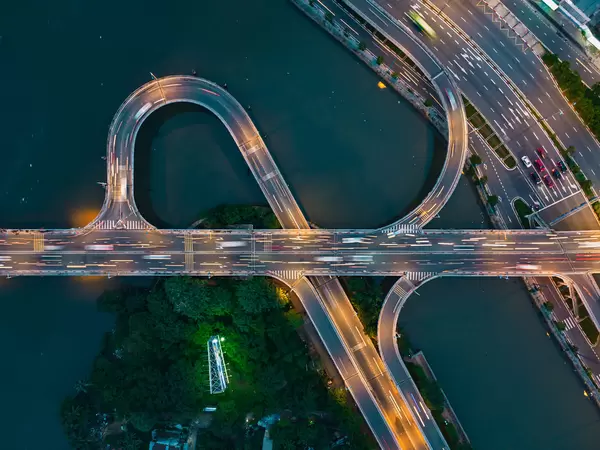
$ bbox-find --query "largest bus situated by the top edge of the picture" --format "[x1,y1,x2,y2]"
[411,10,438,36]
